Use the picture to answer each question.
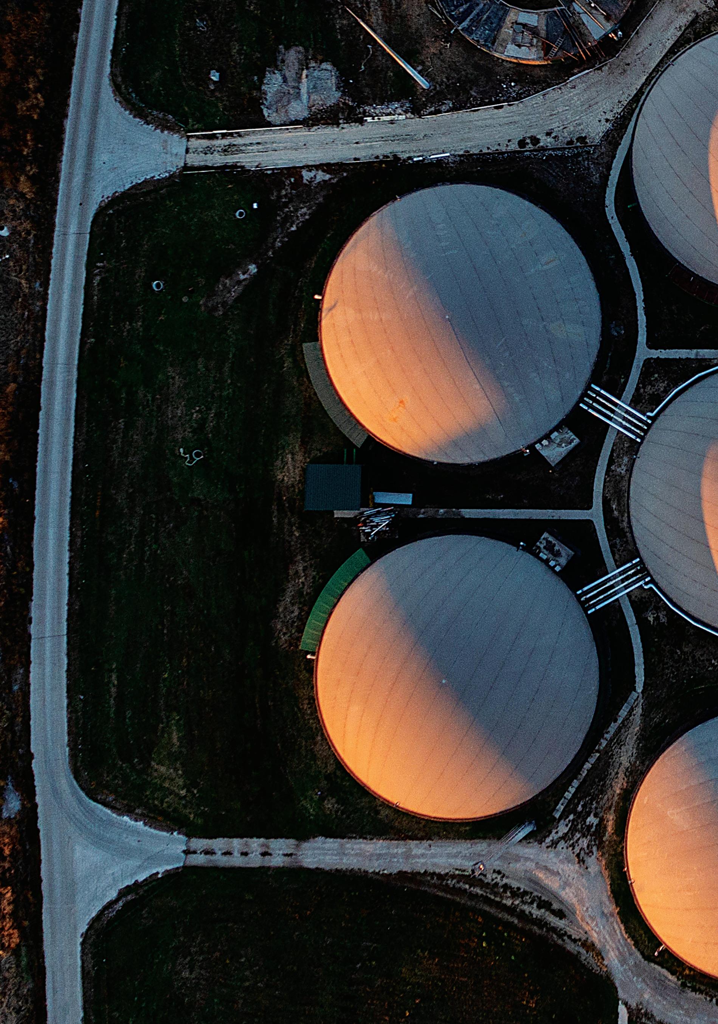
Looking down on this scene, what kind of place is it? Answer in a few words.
industrial area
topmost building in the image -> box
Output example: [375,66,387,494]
[538,426,586,466]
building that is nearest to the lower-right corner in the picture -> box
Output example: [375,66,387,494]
[533,532,580,570]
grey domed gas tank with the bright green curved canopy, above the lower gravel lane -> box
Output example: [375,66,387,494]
[300,532,611,821]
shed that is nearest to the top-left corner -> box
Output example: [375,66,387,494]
[304,465,371,510]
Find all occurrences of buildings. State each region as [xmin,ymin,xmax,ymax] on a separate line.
[304,465,371,510]
[533,532,580,570]
[538,426,586,466]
